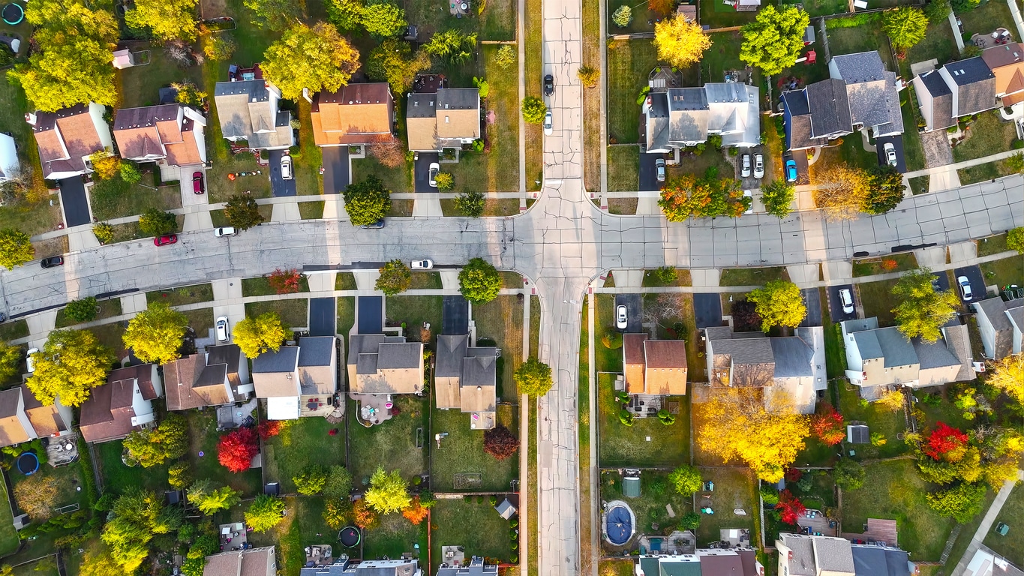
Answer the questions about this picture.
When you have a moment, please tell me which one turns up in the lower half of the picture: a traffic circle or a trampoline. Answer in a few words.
trampoline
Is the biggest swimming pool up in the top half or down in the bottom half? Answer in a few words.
bottom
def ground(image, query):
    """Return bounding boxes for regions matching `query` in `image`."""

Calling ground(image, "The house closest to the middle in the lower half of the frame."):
[434,334,496,412]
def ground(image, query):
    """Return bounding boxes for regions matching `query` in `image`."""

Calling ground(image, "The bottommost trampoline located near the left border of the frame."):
[14,453,40,476]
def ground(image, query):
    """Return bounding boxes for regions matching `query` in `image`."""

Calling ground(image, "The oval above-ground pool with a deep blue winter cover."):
[602,501,635,547]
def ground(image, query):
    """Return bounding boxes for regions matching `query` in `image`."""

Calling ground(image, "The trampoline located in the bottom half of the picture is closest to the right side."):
[336,526,361,550]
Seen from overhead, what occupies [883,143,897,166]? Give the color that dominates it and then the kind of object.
white car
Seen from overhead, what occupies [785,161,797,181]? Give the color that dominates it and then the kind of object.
blue vehicle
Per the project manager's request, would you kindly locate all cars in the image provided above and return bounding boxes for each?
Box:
[192,172,205,194]
[883,143,897,166]
[42,257,64,267]
[753,155,763,177]
[0,311,14,322]
[544,75,554,97]
[217,317,229,339]
[617,306,626,327]
[282,157,292,178]
[655,159,666,181]
[543,112,553,135]
[839,290,853,312]
[25,349,40,371]
[411,260,433,268]
[957,274,970,296]
[740,155,751,177]
[155,235,177,246]
[216,228,237,237]
[429,164,439,186]
[785,161,797,181]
